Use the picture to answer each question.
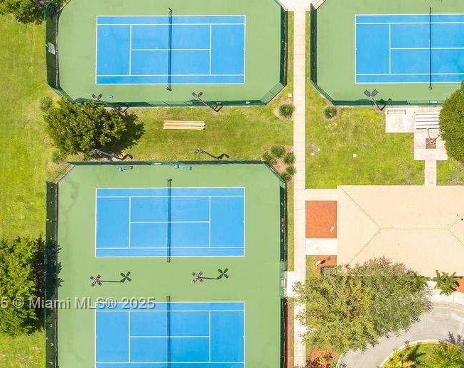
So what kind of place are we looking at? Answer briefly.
sports ground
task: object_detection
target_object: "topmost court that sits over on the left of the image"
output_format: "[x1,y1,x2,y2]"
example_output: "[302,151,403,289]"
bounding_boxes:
[58,0,285,104]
